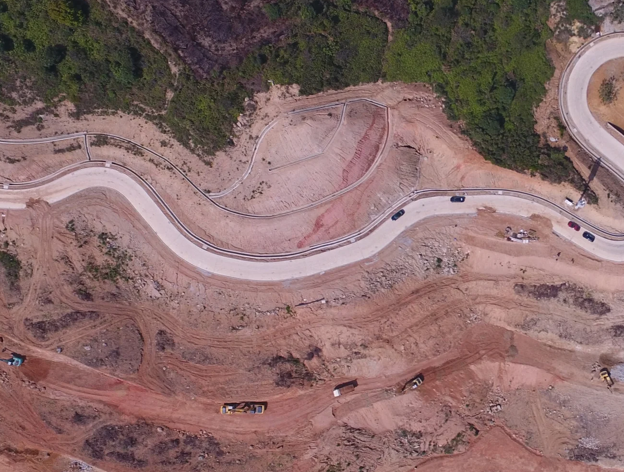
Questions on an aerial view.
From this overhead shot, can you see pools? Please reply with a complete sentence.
No, there appears to be no pool in this shot.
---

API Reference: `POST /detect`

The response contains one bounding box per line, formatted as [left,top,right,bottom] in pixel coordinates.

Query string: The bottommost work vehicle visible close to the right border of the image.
[598,368,615,396]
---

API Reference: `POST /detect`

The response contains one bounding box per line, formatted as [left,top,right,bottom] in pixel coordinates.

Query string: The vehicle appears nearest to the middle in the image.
[390,208,405,221]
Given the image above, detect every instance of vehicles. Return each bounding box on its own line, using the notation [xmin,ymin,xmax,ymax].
[390,208,405,221]
[399,376,425,395]
[582,232,597,242]
[451,197,466,203]
[241,405,266,416]
[330,384,356,398]
[0,356,23,368]
[567,220,582,232]
[598,368,615,396]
